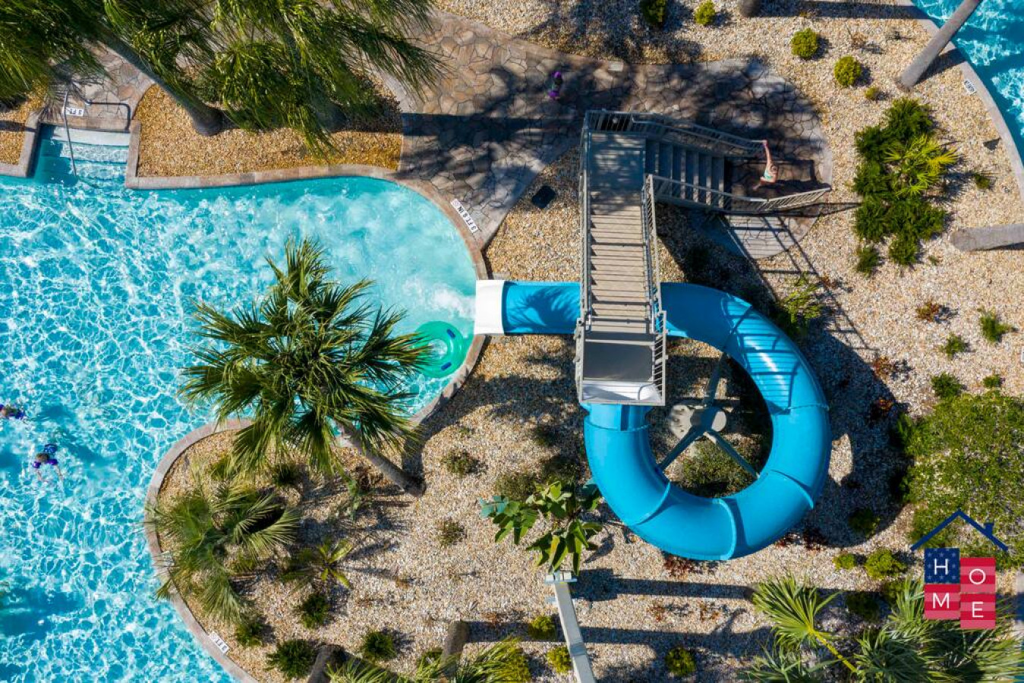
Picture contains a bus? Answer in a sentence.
No, I can see no bus in this picture.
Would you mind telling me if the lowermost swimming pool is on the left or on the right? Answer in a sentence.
You can find the lowermost swimming pool on the left side of the picture.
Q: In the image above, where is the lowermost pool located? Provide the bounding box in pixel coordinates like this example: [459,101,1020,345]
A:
[0,127,476,683]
